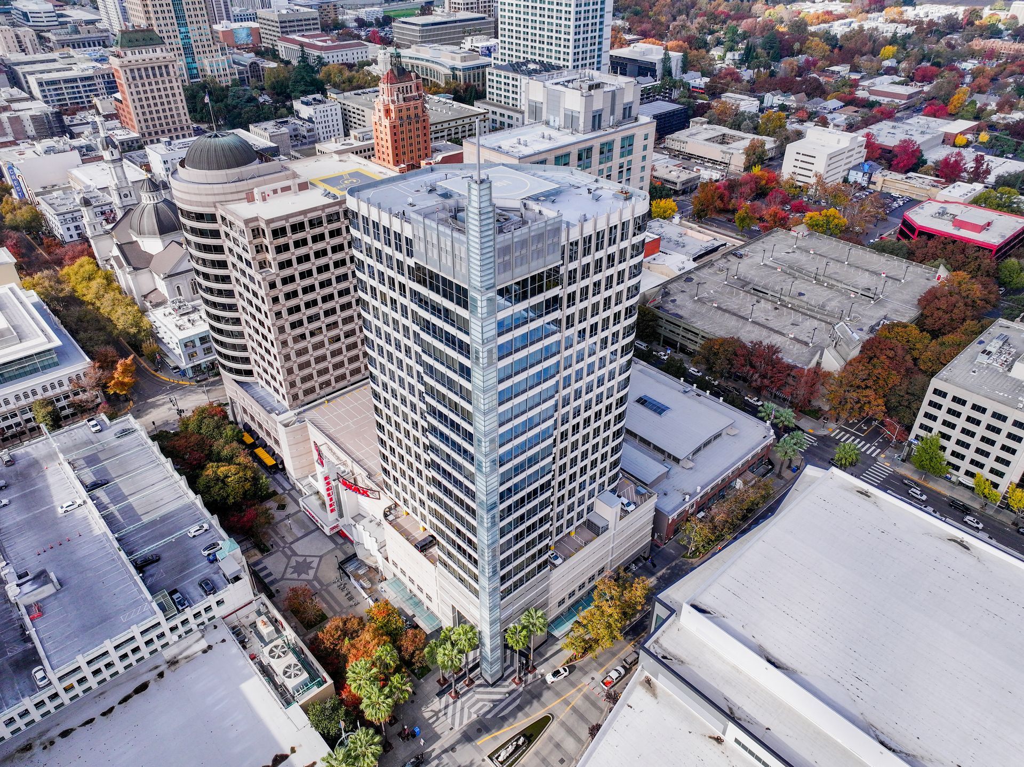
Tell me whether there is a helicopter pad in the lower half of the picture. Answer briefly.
No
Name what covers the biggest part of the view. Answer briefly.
buildings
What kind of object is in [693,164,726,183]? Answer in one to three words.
building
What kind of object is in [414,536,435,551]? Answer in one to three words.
car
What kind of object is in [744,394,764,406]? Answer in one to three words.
vehicle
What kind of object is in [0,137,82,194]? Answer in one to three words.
building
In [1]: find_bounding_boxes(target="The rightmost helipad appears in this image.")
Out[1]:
[432,164,574,203]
